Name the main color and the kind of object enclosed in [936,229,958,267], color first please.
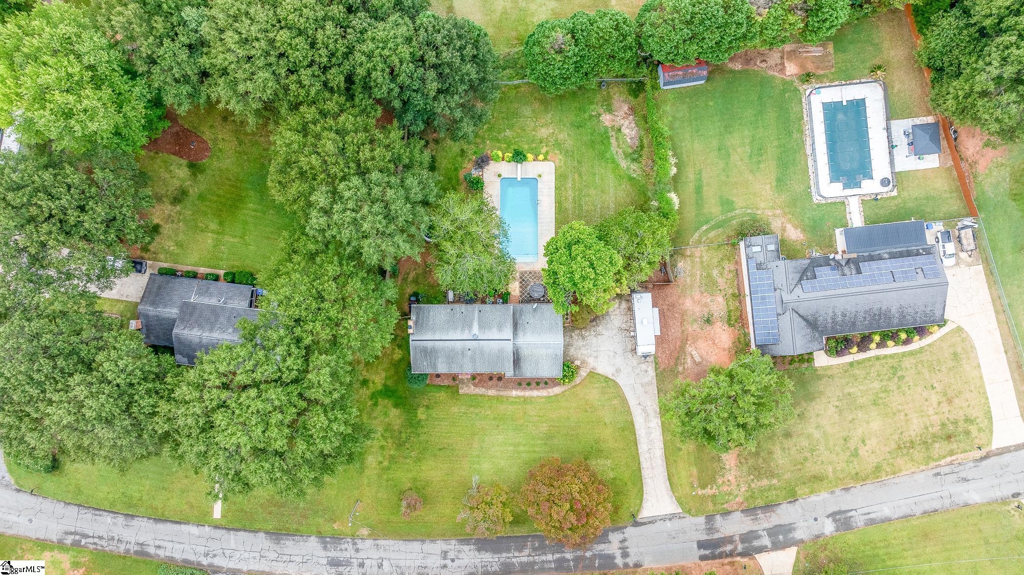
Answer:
white truck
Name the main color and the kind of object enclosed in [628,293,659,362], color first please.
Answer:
white trailer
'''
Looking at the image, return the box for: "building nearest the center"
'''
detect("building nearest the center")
[407,304,564,378]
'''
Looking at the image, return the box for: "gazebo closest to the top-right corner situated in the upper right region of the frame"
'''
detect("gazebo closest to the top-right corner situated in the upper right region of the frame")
[906,122,942,158]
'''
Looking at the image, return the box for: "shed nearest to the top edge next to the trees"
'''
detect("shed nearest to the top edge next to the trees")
[659,57,708,91]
